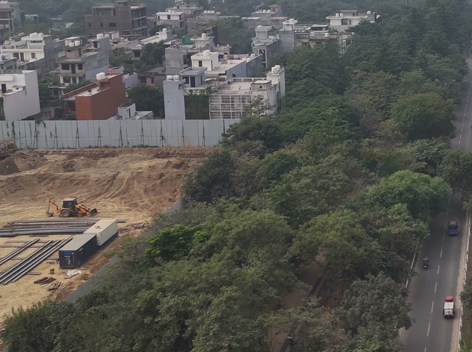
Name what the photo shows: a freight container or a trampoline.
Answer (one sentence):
Of the two, only a freight container appears.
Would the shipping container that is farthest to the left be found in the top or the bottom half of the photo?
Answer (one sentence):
Seen from above, the shipping container that is farthest to the left lies in the bottom half of the view.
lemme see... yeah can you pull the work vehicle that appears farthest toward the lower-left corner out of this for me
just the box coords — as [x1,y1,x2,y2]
[48,197,100,218]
